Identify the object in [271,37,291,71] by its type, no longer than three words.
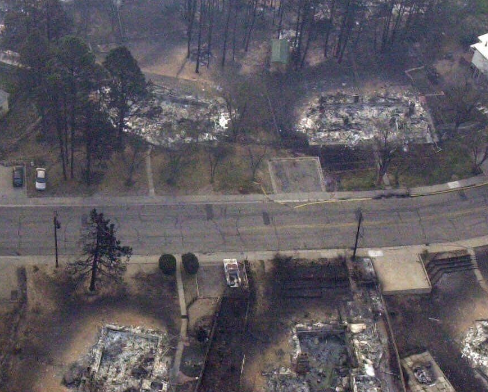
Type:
shed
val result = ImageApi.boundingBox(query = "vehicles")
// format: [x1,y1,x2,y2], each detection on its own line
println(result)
[13,161,24,186]
[226,259,240,284]
[35,168,46,188]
